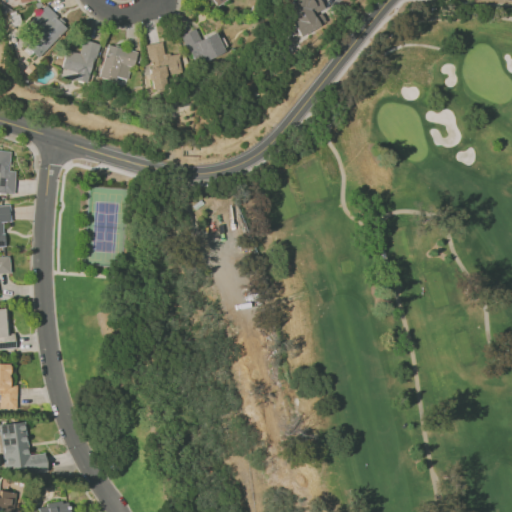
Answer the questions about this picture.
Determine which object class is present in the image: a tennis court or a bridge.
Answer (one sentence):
Of the two, only a tennis court appears.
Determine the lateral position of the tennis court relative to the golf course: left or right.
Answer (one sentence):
Looking at the photo, the tennis court lies to the left of the golf course.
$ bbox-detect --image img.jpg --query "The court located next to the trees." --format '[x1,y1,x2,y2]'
[86,187,126,267]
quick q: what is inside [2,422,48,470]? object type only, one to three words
house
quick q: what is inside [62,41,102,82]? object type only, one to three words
house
